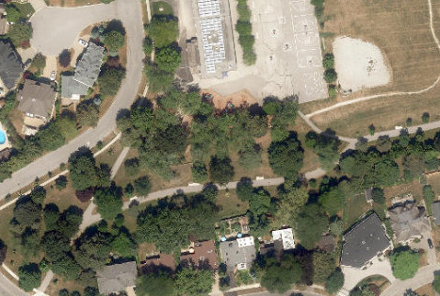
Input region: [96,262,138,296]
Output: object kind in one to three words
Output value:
house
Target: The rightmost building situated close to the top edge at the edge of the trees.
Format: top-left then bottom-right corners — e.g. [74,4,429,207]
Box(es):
[188,0,238,77]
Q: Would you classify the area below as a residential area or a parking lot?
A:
residential area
